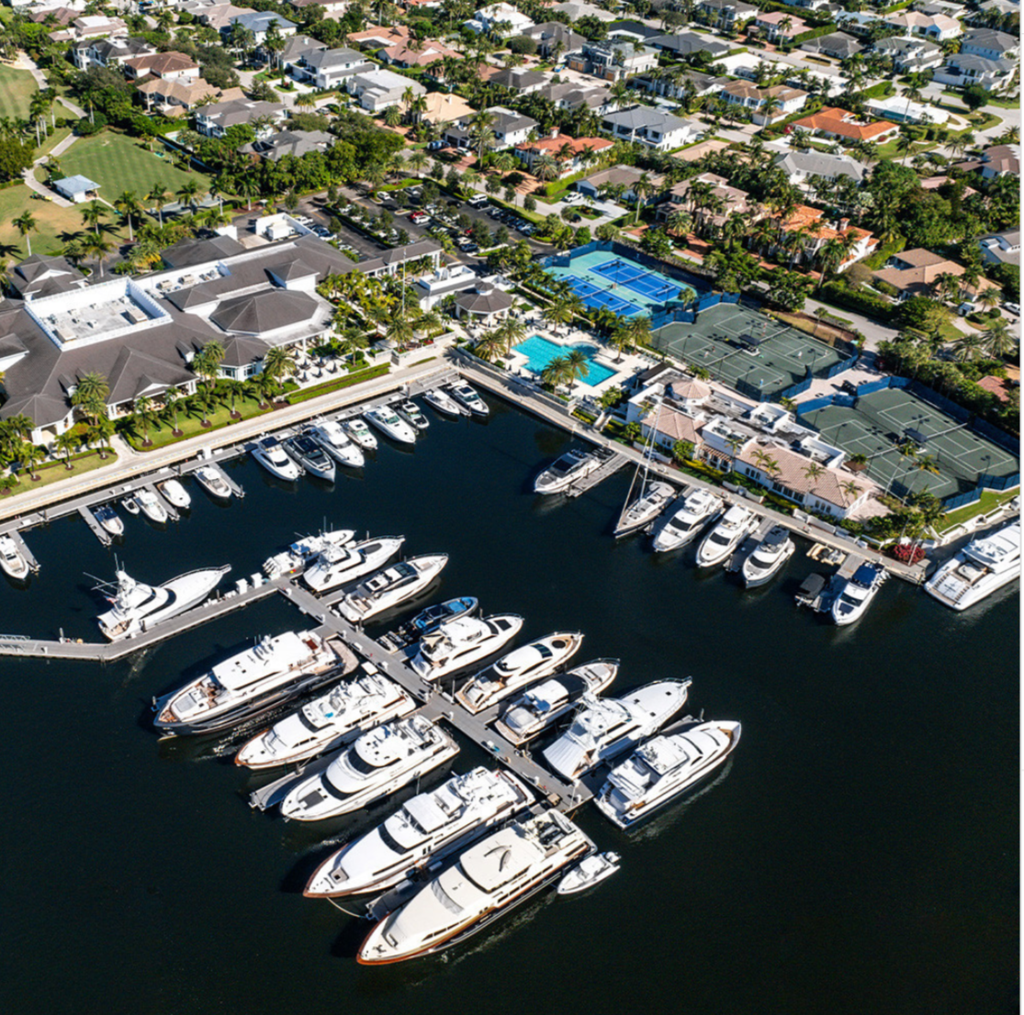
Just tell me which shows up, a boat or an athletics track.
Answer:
boat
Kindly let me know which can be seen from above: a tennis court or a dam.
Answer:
tennis court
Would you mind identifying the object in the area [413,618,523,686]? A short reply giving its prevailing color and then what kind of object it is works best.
white boat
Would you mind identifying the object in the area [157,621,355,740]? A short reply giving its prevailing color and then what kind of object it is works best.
white boat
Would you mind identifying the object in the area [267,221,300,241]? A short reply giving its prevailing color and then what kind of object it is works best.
white vehicle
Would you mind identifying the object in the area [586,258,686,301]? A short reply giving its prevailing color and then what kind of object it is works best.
blue tennis court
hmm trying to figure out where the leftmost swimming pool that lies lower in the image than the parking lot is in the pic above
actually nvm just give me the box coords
[516,335,616,385]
